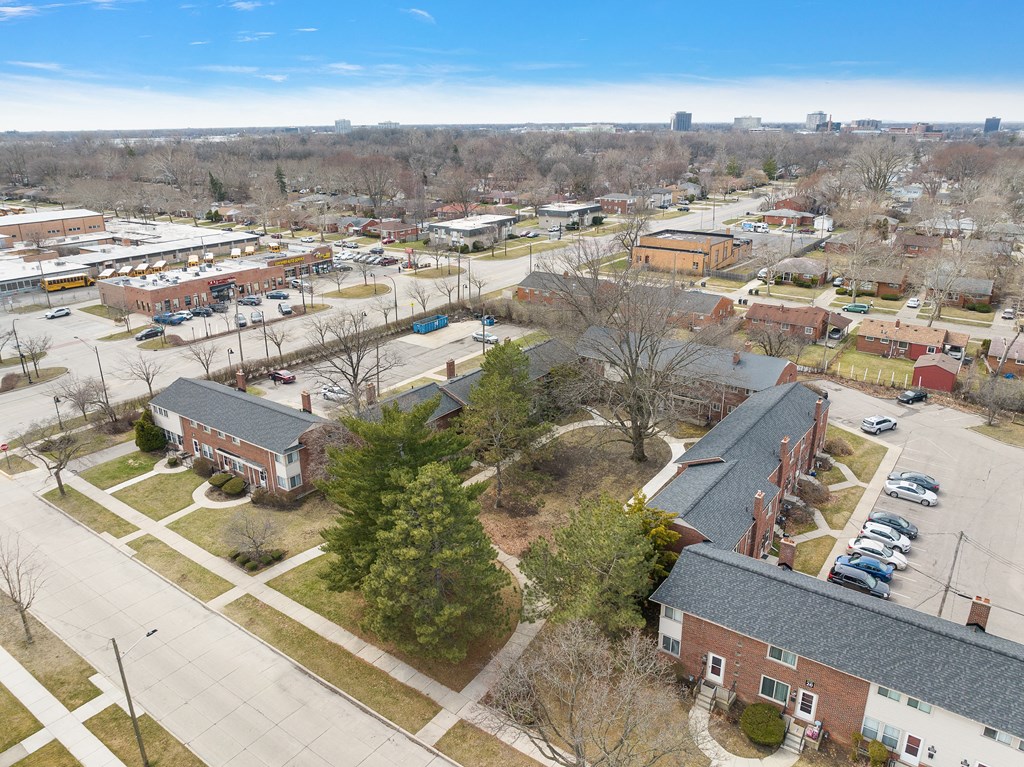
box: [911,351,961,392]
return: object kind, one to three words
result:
shed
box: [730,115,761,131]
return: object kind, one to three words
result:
building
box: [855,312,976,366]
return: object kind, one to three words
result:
house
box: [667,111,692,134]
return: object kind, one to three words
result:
building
